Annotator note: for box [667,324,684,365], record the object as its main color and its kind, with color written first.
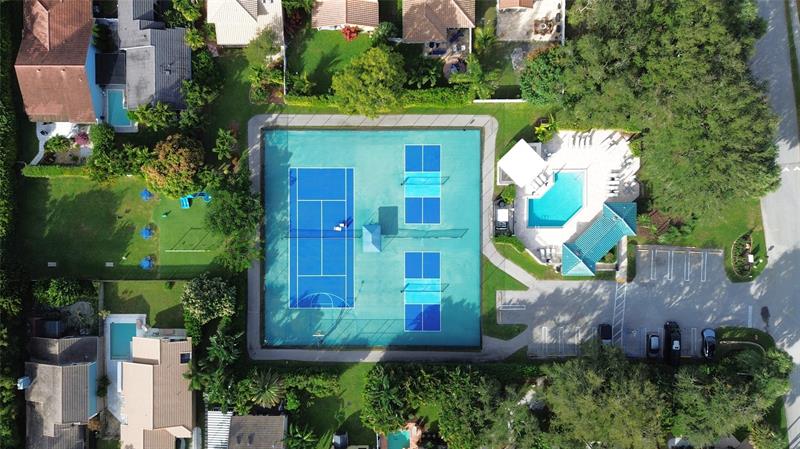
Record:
black vehicle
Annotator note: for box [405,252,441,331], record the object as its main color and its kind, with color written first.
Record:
blue sports court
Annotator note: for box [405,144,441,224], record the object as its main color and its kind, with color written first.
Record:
blue sports court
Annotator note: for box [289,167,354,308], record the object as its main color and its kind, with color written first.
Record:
blue tennis court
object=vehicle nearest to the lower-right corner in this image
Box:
[703,329,719,358]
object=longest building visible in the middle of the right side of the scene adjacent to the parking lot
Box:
[561,201,638,276]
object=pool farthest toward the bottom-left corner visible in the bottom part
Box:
[109,322,138,361]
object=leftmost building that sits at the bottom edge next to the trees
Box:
[17,335,103,449]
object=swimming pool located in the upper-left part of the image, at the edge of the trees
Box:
[105,89,131,127]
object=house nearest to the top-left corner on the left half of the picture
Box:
[12,0,104,122]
